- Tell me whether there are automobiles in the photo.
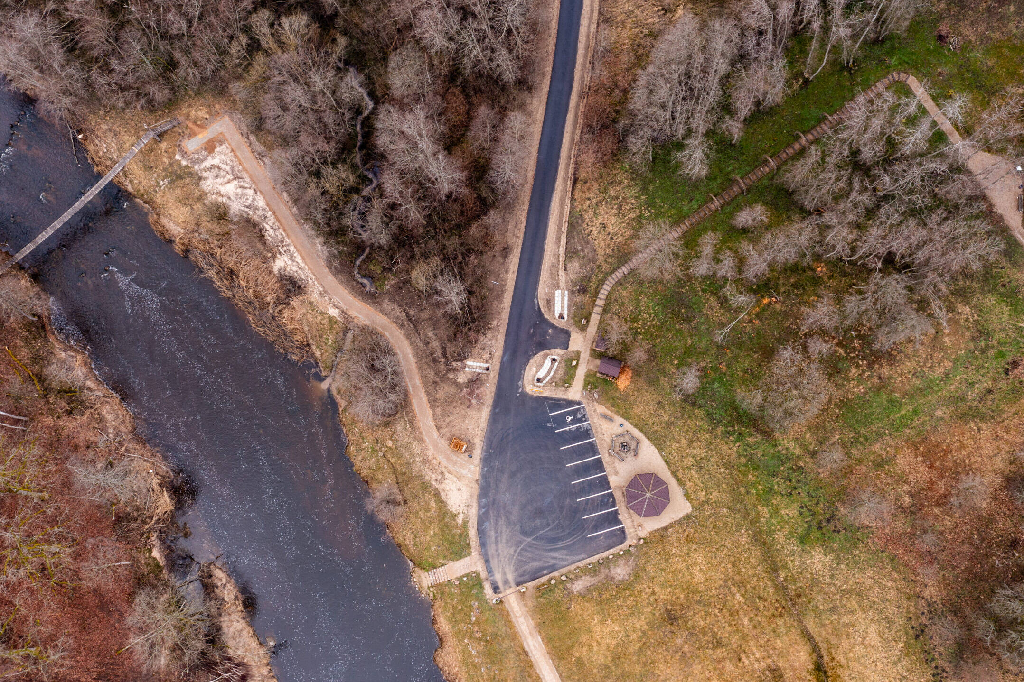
No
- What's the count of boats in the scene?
0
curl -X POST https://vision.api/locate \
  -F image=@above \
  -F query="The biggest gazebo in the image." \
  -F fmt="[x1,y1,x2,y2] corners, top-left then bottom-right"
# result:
[626,473,670,518]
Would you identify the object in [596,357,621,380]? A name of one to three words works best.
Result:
shed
